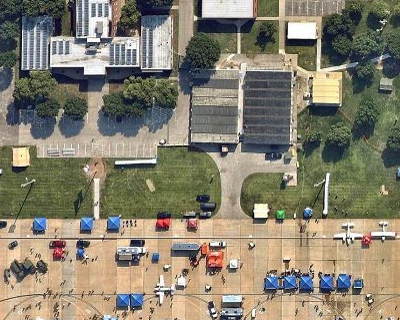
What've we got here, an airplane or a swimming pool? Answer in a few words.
airplane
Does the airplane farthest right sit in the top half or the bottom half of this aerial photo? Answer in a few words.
bottom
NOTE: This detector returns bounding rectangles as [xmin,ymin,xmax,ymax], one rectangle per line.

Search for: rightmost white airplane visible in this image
[370,222,397,241]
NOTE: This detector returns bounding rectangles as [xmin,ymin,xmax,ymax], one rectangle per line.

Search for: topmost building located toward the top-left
[21,0,175,75]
